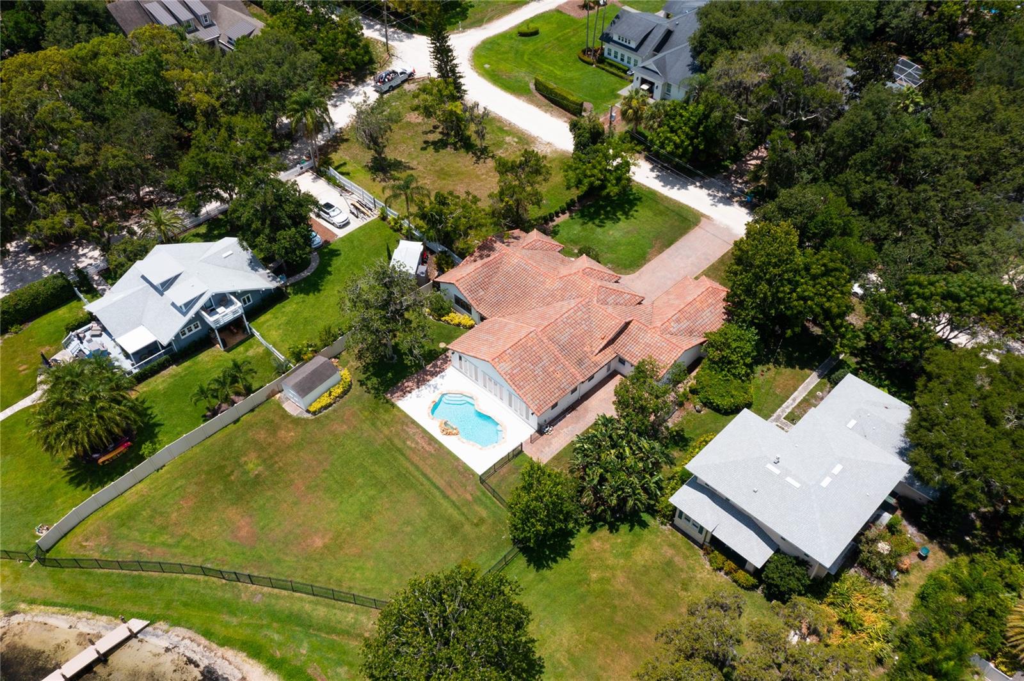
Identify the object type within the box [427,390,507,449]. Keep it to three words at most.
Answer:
swimming pool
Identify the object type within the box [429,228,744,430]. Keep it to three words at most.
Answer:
house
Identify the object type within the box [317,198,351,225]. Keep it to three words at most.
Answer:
car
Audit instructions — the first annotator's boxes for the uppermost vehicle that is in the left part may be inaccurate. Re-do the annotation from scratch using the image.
[373,68,413,94]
